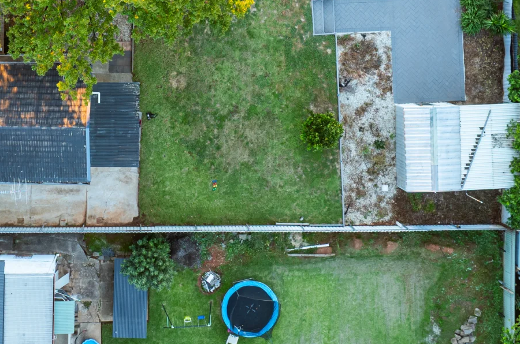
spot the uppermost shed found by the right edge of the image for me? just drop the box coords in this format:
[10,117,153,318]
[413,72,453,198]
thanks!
[395,102,519,203]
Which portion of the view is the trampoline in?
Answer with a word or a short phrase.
bottom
